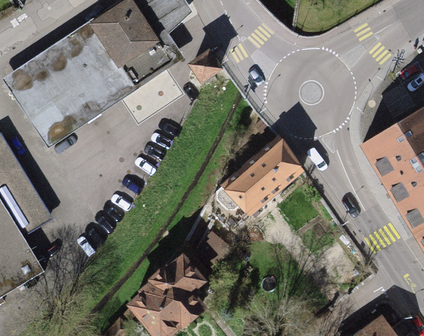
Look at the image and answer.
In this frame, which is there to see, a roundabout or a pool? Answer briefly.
roundabout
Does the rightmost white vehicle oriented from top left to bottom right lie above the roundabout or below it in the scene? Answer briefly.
below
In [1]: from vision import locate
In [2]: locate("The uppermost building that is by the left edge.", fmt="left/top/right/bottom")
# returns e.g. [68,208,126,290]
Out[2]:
[2,18,136,146]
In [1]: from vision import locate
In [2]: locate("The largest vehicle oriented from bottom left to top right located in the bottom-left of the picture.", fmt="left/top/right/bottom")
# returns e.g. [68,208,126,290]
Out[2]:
[44,239,66,258]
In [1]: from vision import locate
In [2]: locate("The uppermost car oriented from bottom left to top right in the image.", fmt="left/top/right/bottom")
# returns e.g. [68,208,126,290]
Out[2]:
[82,4,104,22]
